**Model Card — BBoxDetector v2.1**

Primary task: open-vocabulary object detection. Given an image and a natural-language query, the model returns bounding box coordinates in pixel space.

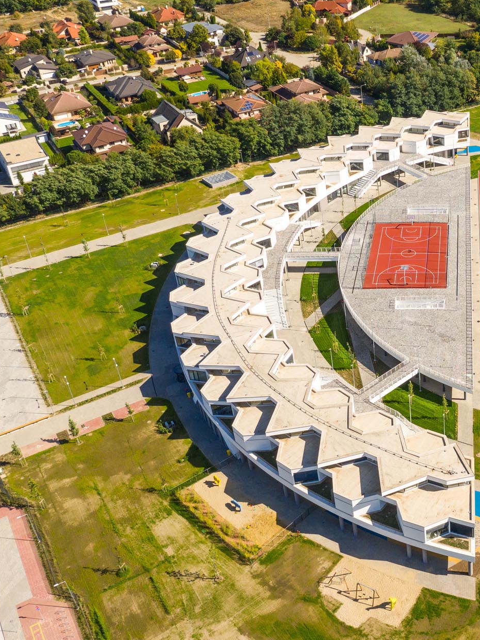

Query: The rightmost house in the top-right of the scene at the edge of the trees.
[385,21,439,49]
